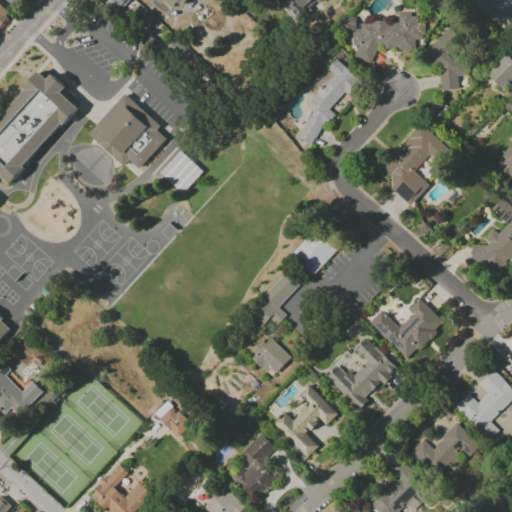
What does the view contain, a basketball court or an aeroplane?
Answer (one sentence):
Looking from above, you can make out a basketball court.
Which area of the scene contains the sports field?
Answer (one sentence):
You can find the sports field in the center area of the picture.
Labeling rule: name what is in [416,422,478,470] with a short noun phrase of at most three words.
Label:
house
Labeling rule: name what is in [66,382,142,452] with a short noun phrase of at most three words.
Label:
tennis court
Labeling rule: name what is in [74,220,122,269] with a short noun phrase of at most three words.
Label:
basketball court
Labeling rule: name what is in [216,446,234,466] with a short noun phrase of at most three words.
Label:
swimming pool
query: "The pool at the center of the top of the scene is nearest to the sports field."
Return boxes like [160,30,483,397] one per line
[289,93,305,120]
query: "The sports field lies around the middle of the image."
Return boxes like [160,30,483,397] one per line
[112,133,308,370]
